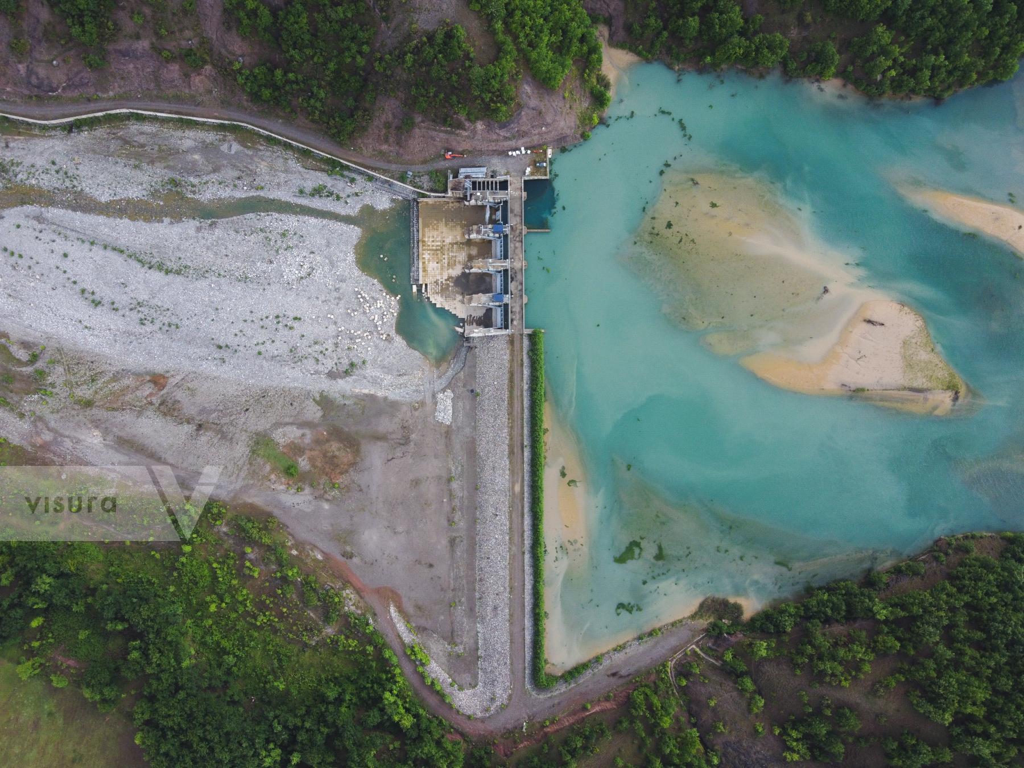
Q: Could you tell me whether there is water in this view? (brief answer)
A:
Yes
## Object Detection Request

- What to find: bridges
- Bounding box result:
[508,176,524,334]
